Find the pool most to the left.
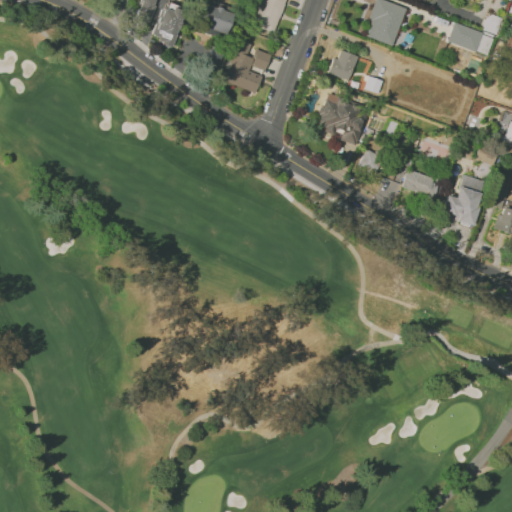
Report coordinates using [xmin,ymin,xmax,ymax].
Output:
[307,93,320,114]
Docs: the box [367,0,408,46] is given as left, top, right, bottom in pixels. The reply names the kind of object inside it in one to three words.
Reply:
house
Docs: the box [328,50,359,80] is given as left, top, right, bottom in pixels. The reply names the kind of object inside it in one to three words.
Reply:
house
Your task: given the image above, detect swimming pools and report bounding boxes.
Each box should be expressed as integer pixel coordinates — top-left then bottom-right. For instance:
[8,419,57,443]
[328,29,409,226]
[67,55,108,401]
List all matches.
[404,32,414,44]
[307,93,320,114]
